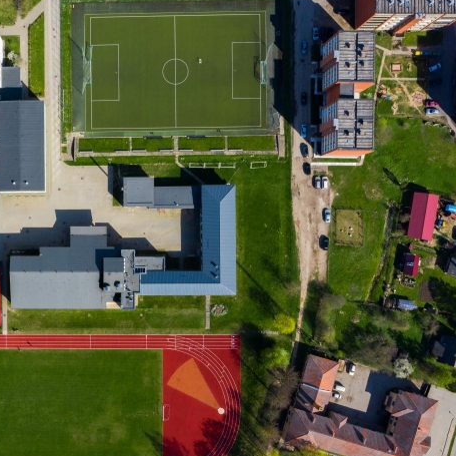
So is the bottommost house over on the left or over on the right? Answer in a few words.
right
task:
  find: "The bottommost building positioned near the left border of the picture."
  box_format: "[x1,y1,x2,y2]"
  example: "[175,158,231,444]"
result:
[10,226,107,309]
